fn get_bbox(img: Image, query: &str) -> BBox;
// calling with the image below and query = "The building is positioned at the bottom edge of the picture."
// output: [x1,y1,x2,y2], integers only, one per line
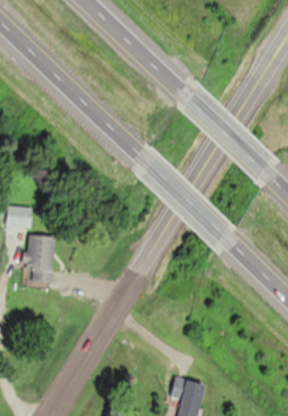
[164,376,205,416]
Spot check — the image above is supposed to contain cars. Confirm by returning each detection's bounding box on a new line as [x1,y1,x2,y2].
[6,264,14,274]
[275,290,286,300]
[15,250,22,262]
[73,289,84,294]
[83,340,92,350]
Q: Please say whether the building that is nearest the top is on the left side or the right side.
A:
left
